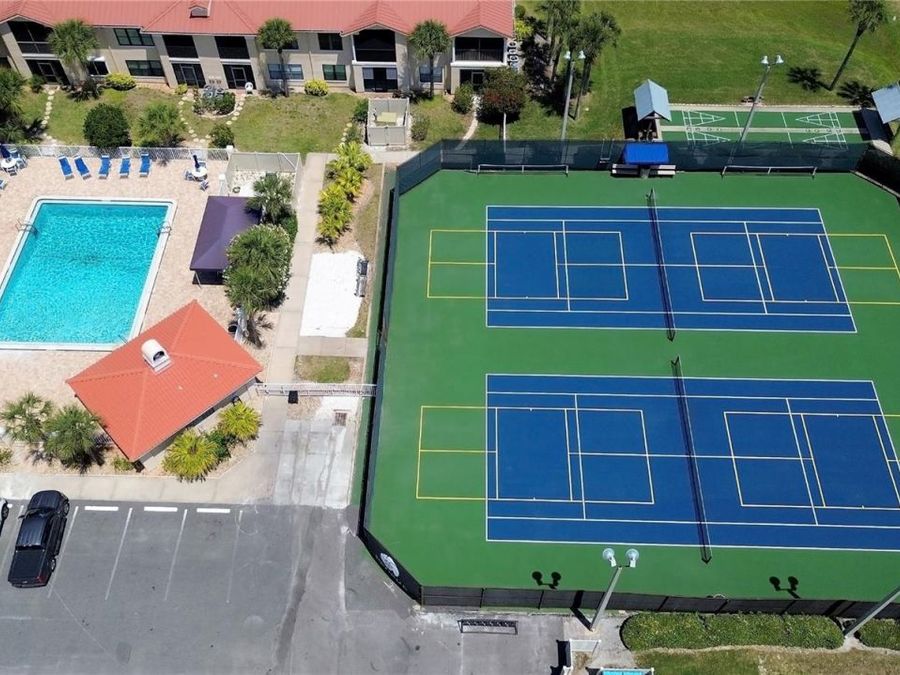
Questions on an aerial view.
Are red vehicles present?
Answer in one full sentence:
No, I can see no red vehicle in this picture.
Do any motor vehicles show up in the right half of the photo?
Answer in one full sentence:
No, in the right half of the photo there is no motor vehicle.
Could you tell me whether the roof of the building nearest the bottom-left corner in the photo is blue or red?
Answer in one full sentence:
The roof of the building nearest the bottom-left corner looks red in the image.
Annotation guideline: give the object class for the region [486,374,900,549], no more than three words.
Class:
tennis court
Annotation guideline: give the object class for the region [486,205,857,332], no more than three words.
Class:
tennis court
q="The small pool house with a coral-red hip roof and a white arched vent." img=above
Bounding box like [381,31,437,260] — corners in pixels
[67,299,263,468]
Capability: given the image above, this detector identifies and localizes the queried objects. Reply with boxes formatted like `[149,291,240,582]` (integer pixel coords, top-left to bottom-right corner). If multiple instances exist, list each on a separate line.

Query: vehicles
[6,488,70,588]
[0,495,8,520]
